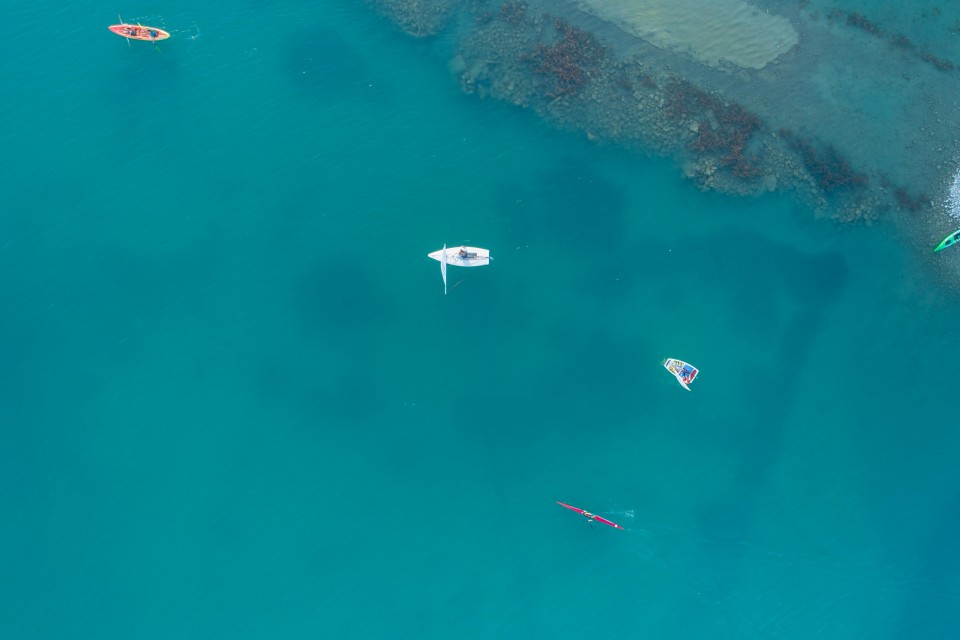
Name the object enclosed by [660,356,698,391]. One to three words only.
boat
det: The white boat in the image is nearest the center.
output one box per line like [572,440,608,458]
[428,245,495,295]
